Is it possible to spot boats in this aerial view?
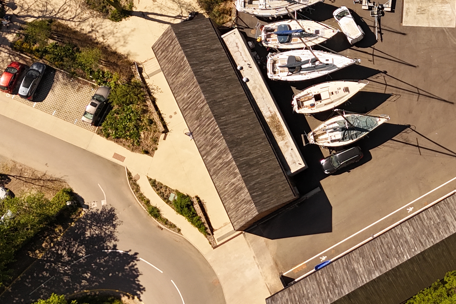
Yes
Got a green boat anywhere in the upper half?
No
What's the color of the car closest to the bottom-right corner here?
black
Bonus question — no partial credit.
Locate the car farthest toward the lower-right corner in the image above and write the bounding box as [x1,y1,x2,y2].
[320,144,365,177]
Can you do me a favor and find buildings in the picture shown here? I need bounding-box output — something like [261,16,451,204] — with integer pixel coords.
[152,18,310,231]
[265,190,456,304]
